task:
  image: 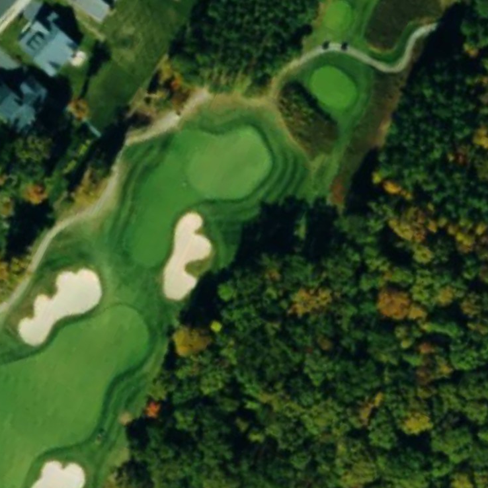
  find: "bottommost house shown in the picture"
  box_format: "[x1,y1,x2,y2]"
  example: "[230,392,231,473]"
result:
[0,70,48,130]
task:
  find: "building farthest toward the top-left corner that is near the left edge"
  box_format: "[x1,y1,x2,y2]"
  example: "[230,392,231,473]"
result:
[18,6,85,74]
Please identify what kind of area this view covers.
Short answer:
golf course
